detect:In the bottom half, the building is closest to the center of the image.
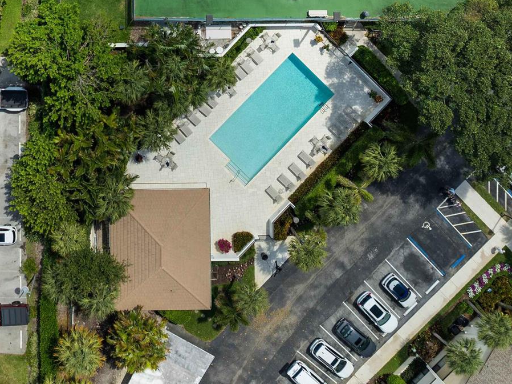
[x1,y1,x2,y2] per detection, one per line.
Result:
[111,183,212,312]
